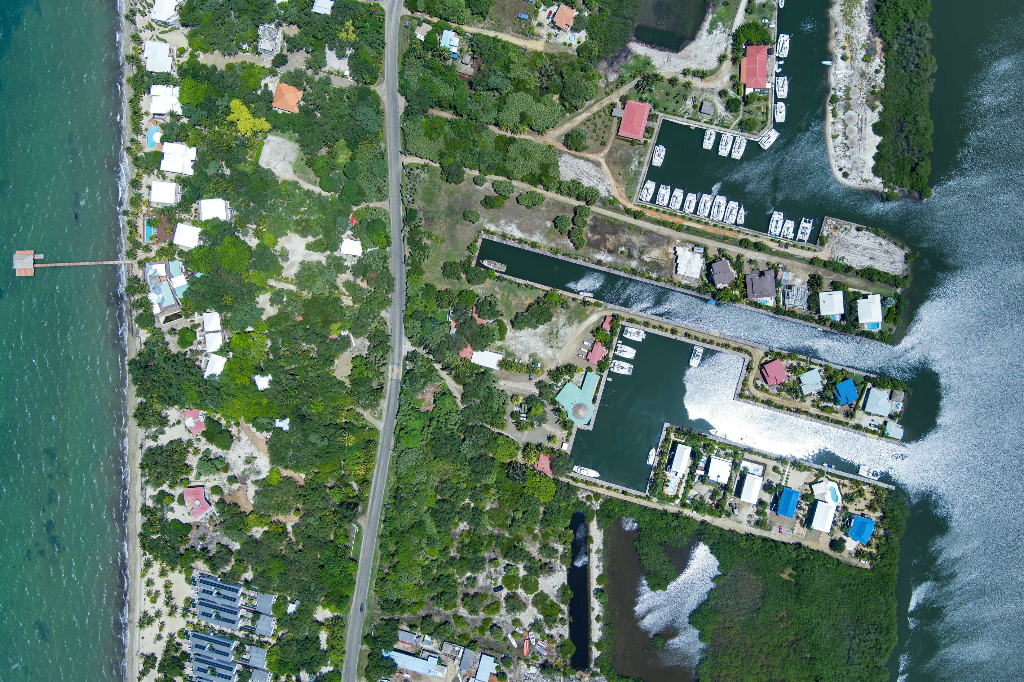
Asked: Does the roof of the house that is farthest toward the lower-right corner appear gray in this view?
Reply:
No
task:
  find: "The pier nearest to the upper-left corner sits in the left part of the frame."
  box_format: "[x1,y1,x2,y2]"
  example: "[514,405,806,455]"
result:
[16,250,136,276]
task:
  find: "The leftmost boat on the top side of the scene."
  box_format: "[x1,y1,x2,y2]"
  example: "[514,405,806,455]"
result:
[479,260,508,273]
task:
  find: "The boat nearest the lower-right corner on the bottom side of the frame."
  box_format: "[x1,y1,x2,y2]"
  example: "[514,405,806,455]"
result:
[857,467,881,481]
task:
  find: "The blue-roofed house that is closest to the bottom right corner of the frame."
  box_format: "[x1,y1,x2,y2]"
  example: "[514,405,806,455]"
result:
[844,514,875,545]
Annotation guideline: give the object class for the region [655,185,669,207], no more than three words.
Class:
boat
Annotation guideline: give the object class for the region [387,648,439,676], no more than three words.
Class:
building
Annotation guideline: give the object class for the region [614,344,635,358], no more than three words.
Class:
boat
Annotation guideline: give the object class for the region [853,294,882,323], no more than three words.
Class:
house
